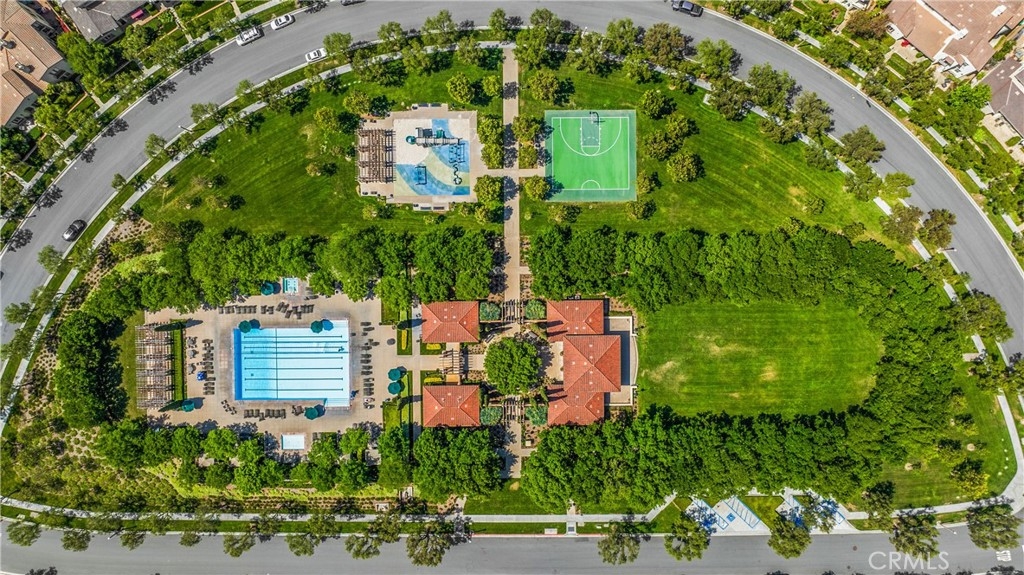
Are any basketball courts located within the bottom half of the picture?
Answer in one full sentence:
No, there is no basketball court within the bottom half of the picture.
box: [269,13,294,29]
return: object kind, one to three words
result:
car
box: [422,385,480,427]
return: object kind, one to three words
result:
building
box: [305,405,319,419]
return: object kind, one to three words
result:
umbrella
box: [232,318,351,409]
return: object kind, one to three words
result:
swimming pool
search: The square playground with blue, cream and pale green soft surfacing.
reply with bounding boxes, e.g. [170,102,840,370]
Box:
[360,104,477,211]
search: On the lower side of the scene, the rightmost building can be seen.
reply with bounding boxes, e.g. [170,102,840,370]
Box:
[547,294,639,426]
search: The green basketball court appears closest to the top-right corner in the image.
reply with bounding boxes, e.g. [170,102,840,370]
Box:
[546,110,636,201]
